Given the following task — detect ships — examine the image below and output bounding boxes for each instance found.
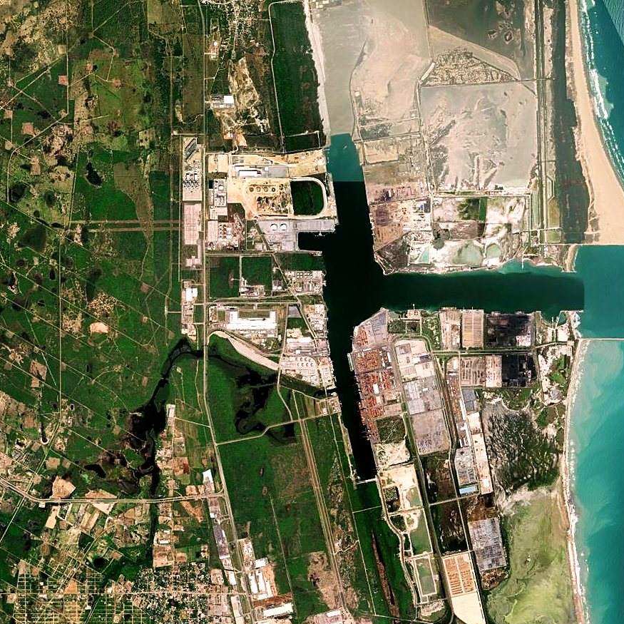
[358,401,365,426]
[348,353,353,371]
